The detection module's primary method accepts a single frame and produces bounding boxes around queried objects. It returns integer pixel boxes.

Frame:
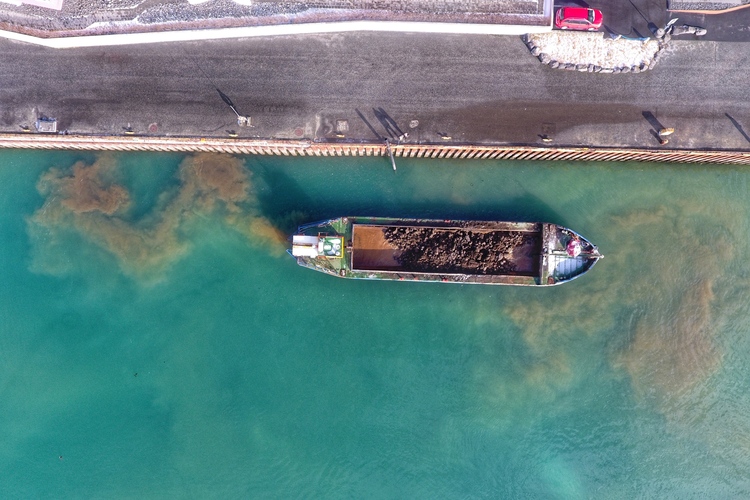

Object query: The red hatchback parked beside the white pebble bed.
[554,6,603,33]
